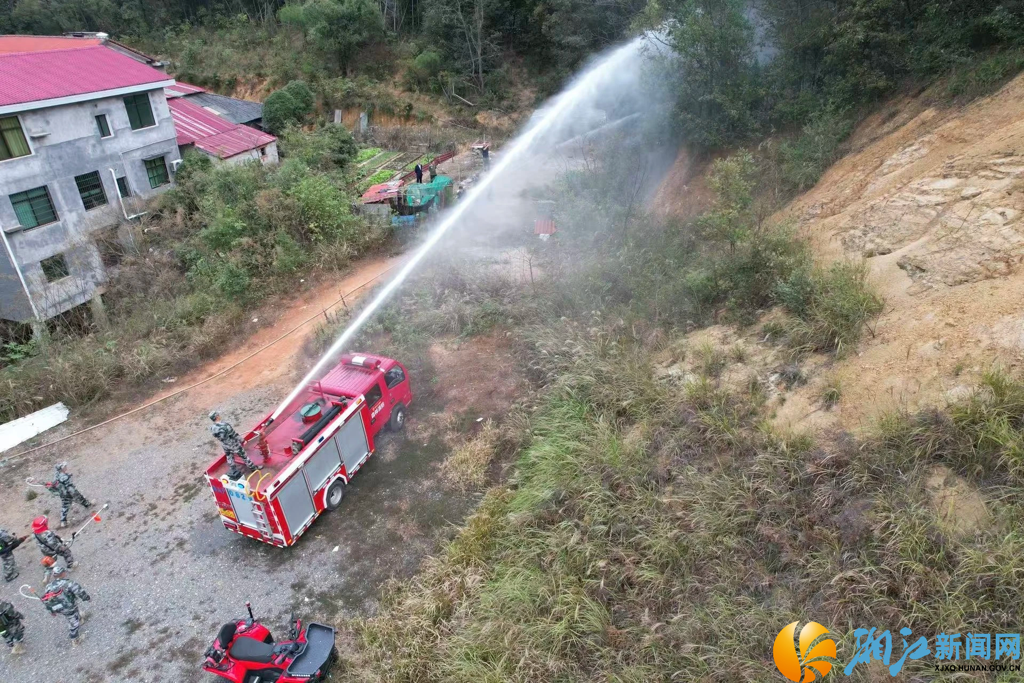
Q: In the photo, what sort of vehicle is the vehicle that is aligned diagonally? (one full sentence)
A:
The vehicle that is aligned diagonally in the image is a truck.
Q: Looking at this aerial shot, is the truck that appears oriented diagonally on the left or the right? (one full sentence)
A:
The truck that appears oriented diagonally appears in the left half of the scene.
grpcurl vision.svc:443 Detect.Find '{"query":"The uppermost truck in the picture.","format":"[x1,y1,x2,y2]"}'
[208,354,412,549]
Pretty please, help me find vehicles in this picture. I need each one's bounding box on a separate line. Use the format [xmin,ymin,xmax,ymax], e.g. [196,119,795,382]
[208,354,412,549]
[204,603,342,683]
